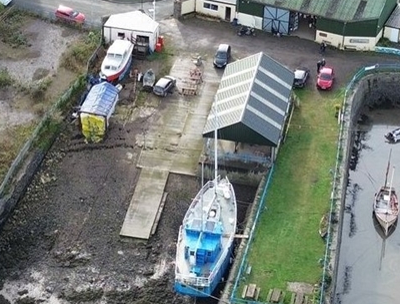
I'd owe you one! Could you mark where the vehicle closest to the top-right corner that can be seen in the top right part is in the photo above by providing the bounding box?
[317,66,336,89]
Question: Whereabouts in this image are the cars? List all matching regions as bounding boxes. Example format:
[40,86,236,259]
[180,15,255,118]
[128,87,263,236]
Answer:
[317,66,336,89]
[295,66,310,89]
[210,43,234,66]
[52,3,87,23]
[148,72,179,96]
